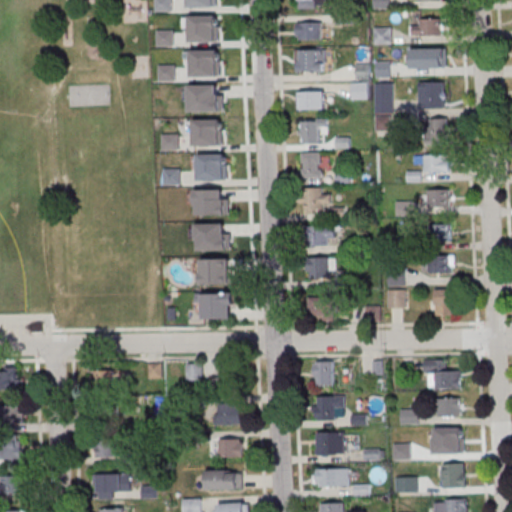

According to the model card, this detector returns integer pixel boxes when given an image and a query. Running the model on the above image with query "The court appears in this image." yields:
[67,85,110,108]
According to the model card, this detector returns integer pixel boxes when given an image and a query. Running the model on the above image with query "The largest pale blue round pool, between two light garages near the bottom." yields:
[368,466,388,486]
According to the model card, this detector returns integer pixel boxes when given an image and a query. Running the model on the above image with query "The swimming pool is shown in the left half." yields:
[168,259,196,288]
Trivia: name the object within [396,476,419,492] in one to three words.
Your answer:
building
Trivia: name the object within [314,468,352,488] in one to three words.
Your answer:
house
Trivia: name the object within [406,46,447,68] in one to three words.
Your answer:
house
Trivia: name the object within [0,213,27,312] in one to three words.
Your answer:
baseball field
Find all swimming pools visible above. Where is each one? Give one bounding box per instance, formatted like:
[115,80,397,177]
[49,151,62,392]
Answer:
[356,46,368,60]
[168,259,196,288]
[391,48,402,60]
[368,466,388,486]
[390,12,402,26]
[368,398,384,414]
